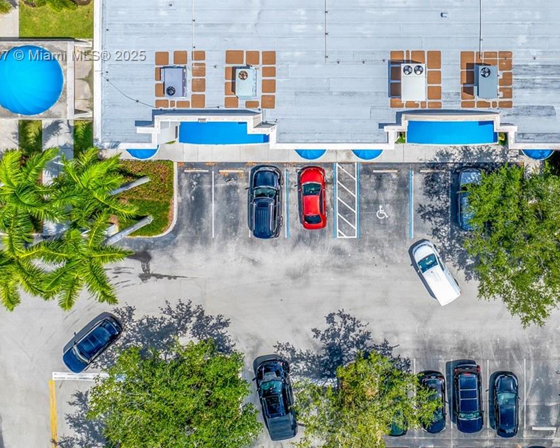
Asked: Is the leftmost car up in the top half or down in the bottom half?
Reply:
bottom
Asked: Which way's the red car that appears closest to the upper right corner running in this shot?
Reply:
from top to bottom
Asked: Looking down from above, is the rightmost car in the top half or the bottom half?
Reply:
bottom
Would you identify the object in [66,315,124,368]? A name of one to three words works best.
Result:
car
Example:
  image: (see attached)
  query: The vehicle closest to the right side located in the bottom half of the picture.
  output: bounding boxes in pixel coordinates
[490,372,521,440]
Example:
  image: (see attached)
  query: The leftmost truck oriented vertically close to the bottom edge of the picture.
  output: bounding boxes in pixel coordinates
[256,359,294,443]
